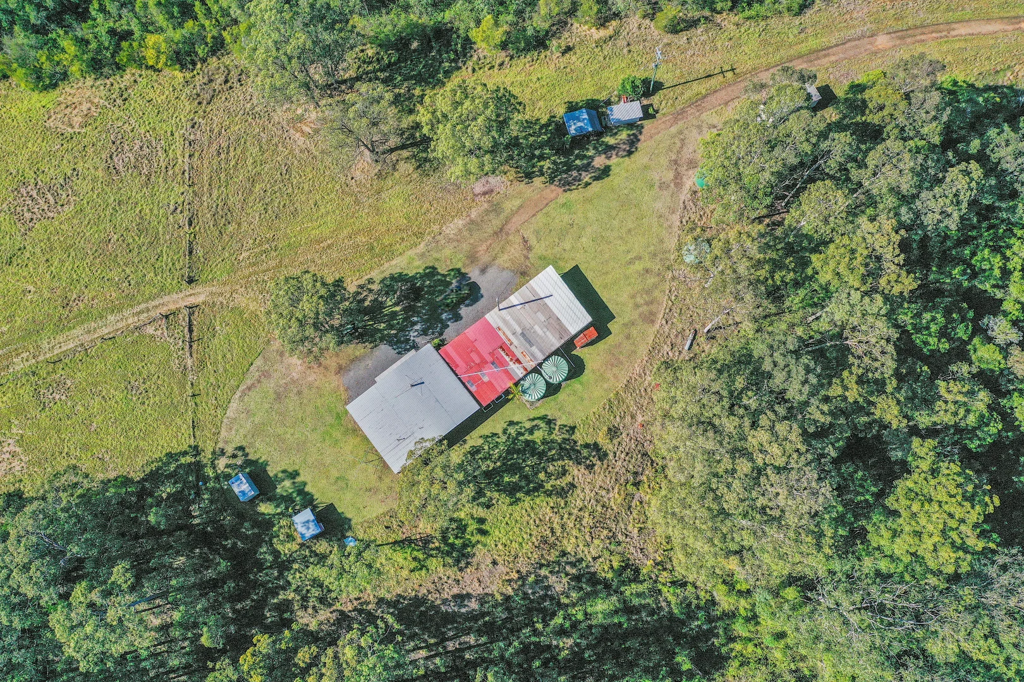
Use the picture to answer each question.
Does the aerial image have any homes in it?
Yes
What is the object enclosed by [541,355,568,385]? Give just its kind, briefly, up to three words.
water tank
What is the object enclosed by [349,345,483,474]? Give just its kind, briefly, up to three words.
shed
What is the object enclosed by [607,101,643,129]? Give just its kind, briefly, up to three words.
shed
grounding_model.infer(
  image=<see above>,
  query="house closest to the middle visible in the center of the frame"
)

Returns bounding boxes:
[441,266,595,409]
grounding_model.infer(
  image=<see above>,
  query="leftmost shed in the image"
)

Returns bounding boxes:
[229,473,258,503]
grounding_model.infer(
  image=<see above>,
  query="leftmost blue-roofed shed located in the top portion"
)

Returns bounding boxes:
[566,109,601,141]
